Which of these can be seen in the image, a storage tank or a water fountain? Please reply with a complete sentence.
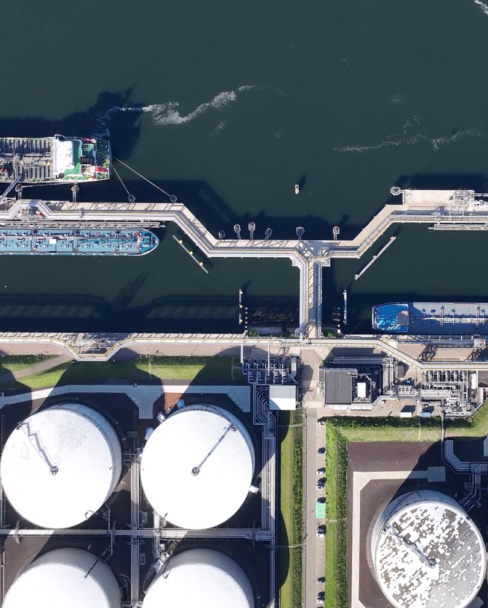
It is a storage tank that can be seen here.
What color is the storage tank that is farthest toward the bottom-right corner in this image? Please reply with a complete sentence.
The storage tank that is farthest toward the bottom-right corner looks white in the image.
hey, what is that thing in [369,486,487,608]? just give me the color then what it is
white storage tank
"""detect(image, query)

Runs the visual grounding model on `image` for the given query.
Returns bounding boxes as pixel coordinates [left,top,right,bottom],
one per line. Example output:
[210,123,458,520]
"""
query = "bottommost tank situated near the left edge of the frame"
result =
[1,545,127,608]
